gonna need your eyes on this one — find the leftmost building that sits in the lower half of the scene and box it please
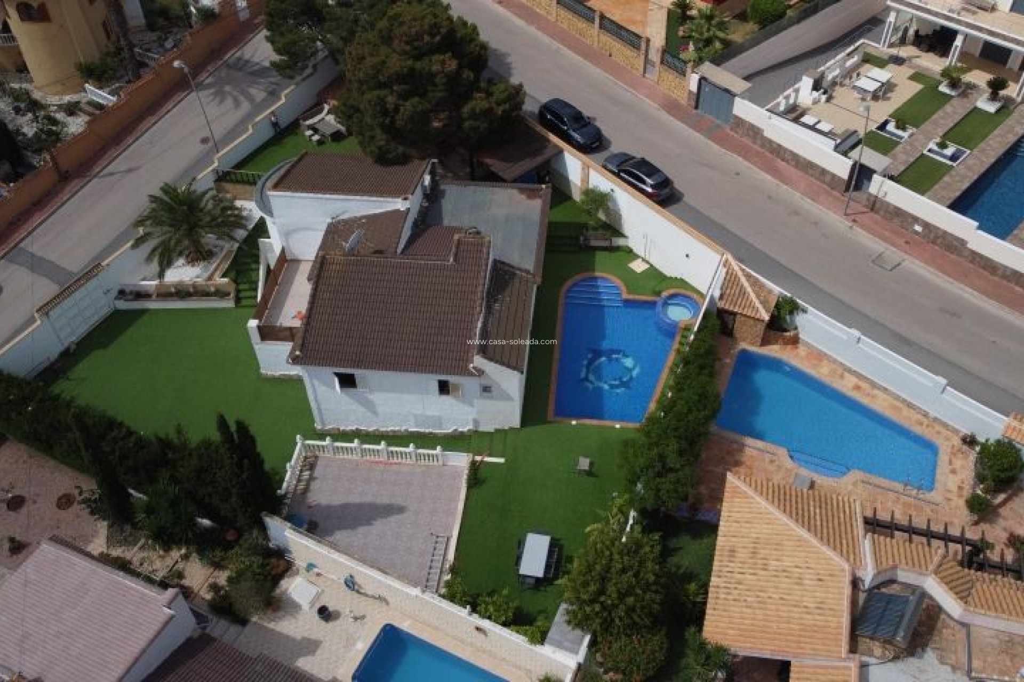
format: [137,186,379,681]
[0,534,188,682]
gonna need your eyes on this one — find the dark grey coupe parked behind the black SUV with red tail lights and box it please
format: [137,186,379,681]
[608,155,680,203]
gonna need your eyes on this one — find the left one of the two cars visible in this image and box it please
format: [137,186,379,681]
[538,102,605,154]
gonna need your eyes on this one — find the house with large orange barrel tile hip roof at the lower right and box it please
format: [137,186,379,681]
[703,471,1024,682]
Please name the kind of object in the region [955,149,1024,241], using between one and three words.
swimming pool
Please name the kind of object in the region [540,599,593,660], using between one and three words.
shed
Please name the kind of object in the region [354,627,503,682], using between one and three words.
swimming pool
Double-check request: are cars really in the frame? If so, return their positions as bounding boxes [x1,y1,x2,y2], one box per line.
[538,102,605,154]
[608,155,680,203]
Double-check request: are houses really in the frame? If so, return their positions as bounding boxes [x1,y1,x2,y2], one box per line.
[0,0,148,84]
[703,471,1024,682]
[878,0,1024,98]
[0,534,188,682]
[243,154,550,426]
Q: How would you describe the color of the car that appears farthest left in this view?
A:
black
